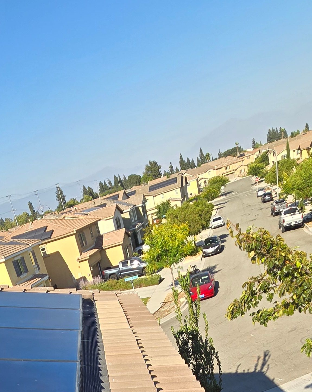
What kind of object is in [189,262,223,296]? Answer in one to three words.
car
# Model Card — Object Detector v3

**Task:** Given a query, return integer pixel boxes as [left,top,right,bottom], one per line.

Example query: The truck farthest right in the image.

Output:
[277,203,306,232]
